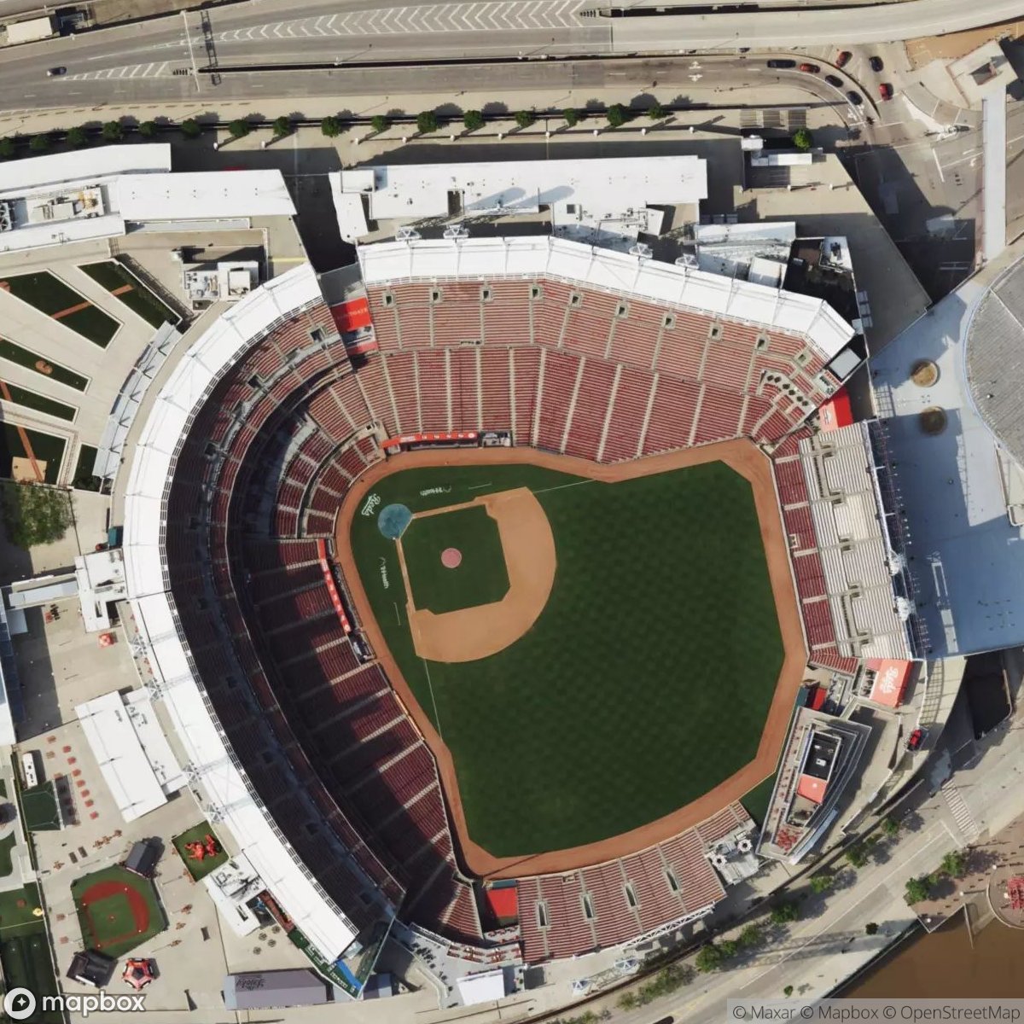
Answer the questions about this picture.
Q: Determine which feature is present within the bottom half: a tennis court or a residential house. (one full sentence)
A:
Visible within the bottom half is a residential house.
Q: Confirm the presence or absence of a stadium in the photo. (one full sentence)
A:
Yes, there's a stadium here.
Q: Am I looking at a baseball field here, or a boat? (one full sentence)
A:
This aerial view contains a baseball field.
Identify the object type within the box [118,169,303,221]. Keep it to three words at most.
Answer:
building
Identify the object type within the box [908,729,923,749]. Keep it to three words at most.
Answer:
vehicle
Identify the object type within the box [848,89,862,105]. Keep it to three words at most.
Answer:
car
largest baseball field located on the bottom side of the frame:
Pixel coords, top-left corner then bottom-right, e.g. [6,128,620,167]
[337,410,832,880]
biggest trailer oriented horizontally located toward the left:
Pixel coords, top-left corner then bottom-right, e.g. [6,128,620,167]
[8,17,55,42]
